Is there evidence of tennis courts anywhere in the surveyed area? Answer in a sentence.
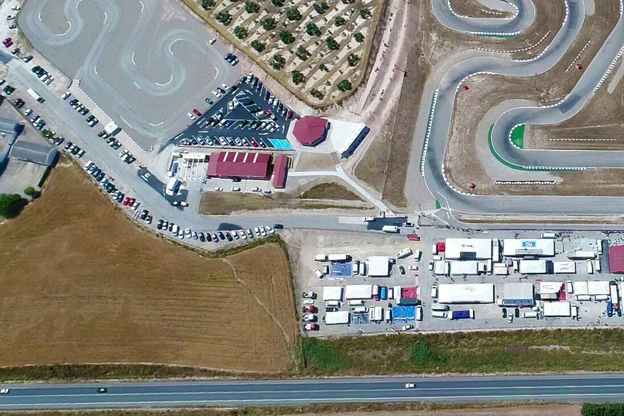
No, I can see no tennis court in this picture.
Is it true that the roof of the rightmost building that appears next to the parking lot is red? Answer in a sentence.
Yes, red is the color of the roof of the rightmost building that appears next to the parking lot.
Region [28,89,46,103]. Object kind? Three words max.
vehicle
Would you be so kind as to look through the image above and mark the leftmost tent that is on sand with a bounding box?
[368,257,389,276]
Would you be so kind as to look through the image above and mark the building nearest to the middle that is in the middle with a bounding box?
[273,156,289,190]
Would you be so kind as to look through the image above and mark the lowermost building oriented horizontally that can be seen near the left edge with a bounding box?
[9,141,62,170]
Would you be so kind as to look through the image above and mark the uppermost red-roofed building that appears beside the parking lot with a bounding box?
[293,113,329,146]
